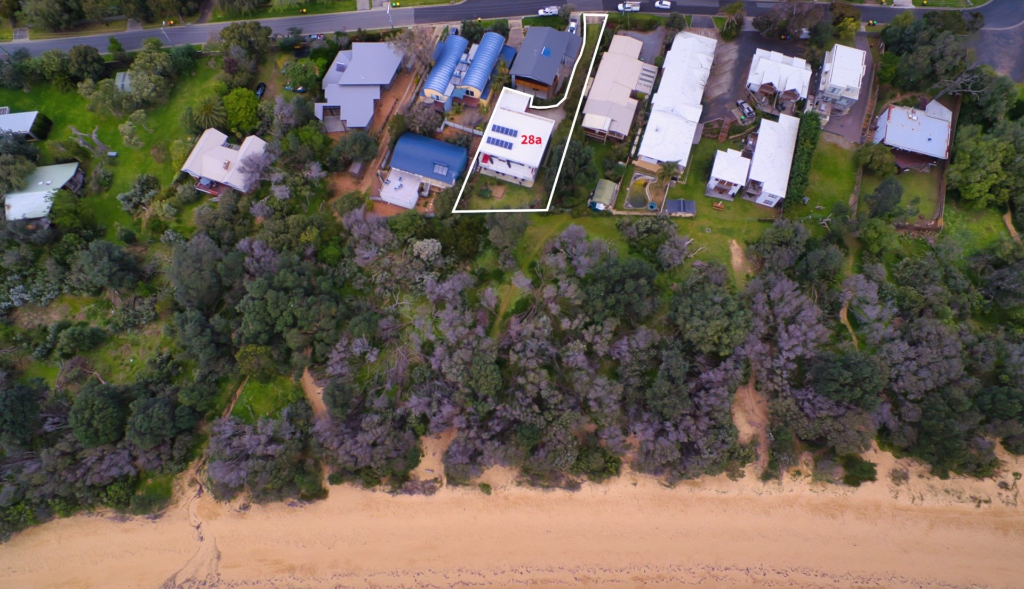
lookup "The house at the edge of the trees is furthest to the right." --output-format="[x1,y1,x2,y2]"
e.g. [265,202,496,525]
[874,99,952,174]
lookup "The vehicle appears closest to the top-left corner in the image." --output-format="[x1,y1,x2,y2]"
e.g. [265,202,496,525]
[253,83,268,99]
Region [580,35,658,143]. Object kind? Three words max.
house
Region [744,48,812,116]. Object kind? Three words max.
house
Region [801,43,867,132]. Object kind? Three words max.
building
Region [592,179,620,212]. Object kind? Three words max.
shed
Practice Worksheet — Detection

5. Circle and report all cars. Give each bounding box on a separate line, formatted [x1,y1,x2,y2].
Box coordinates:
[537,5,559,16]
[800,28,810,42]
[654,0,672,10]
[253,83,268,99]
[568,16,578,34]
[618,1,641,12]
[735,100,758,117]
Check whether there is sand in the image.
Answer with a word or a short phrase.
Yes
